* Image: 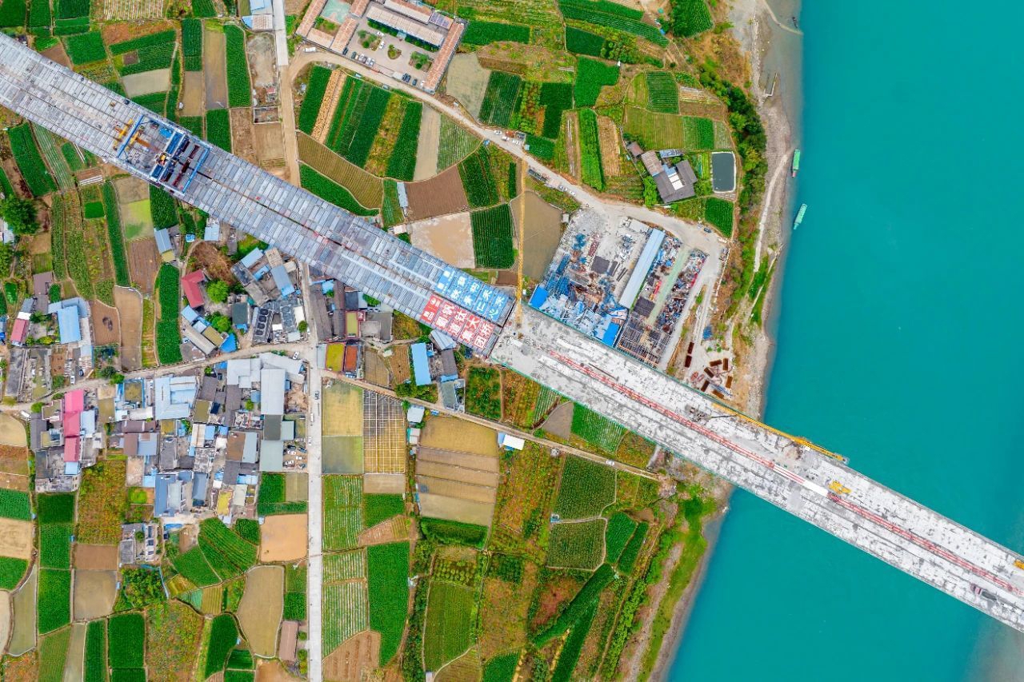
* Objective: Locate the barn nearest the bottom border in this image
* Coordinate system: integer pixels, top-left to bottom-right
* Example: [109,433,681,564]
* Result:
[279,620,299,662]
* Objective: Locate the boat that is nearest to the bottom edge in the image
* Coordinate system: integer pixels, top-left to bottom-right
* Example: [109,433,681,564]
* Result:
[794,205,807,226]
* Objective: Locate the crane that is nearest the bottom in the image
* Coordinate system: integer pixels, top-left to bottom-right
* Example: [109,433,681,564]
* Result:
[714,403,847,463]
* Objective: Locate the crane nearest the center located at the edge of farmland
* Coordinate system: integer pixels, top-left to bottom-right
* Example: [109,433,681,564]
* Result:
[514,156,526,345]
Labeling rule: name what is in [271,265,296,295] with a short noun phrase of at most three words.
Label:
house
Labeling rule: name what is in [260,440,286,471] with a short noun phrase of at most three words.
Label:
barn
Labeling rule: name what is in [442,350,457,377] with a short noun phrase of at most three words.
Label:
house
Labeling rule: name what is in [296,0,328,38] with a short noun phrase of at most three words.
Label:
building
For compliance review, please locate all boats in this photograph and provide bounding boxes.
[793,150,801,175]
[794,205,807,226]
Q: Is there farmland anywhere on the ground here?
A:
Yes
